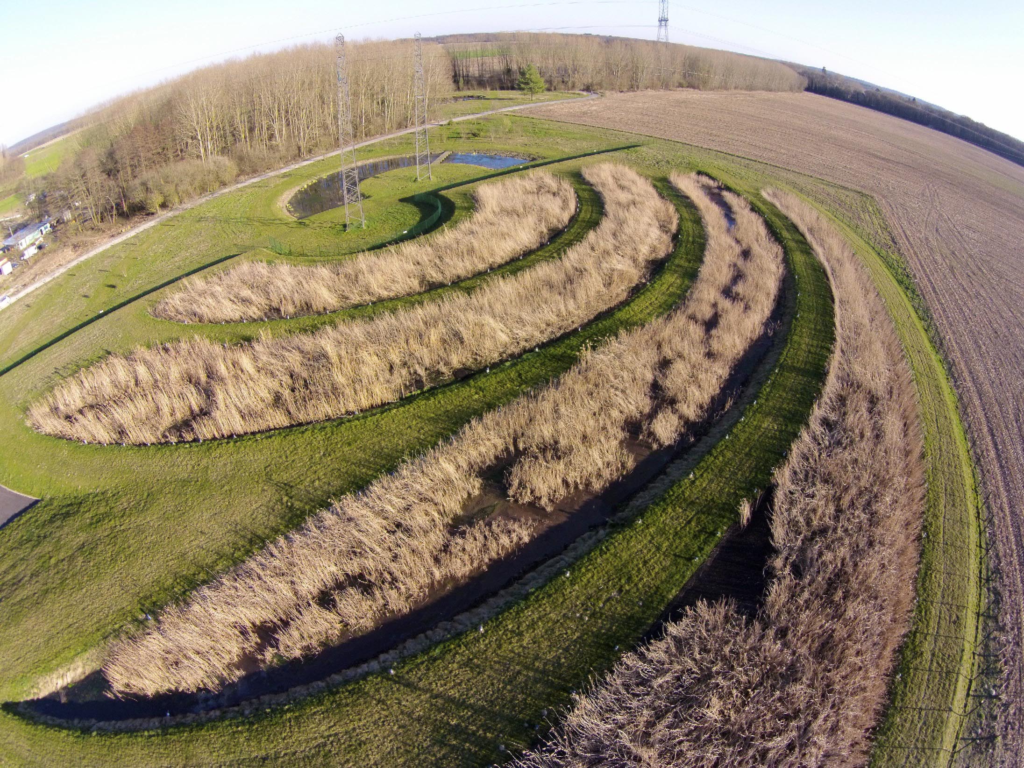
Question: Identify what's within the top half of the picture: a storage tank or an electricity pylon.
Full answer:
Looking within the top half of the picture, you will find an electricity pylon.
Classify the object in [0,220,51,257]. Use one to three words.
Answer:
shed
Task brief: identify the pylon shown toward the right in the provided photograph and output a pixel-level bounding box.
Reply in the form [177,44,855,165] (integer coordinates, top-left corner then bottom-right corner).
[650,0,673,84]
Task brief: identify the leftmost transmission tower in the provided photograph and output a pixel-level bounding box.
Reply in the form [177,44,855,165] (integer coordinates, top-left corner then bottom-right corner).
[339,39,368,230]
